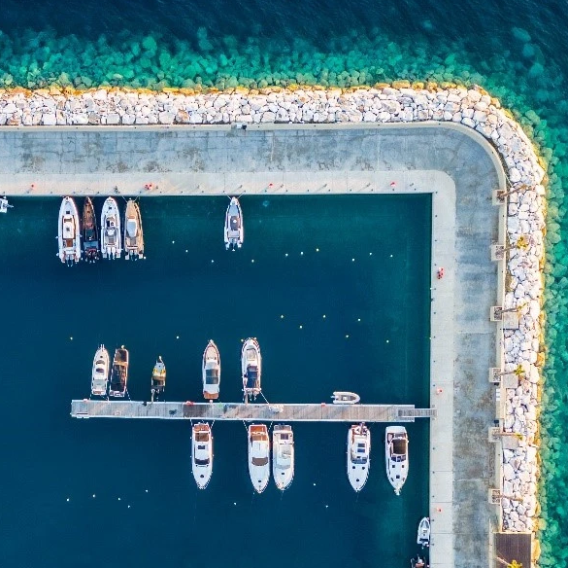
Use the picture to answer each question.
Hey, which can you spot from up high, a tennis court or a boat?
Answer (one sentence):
The image shows a boat.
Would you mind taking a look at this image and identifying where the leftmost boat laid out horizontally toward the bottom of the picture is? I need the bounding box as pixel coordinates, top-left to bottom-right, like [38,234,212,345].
[329,392,361,404]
